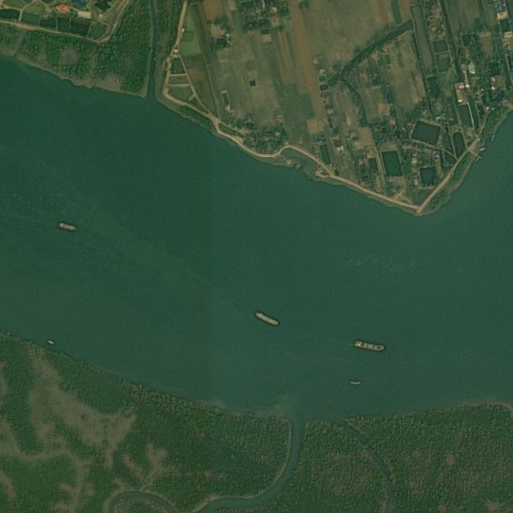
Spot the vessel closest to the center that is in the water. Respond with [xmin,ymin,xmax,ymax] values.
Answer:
[255,313,279,325]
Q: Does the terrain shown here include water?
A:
Yes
